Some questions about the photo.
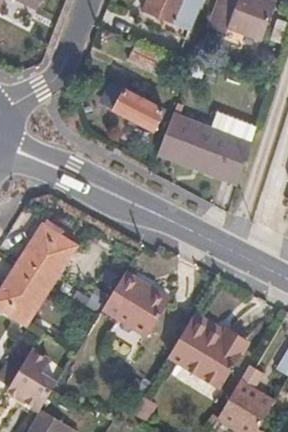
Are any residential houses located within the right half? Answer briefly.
Yes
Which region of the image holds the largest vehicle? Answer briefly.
left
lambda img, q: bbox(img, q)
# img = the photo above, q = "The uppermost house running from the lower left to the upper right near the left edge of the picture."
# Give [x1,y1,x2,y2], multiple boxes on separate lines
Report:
[0,219,79,328]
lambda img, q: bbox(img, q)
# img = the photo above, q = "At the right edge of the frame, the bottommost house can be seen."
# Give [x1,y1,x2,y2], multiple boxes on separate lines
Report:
[216,364,276,432]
